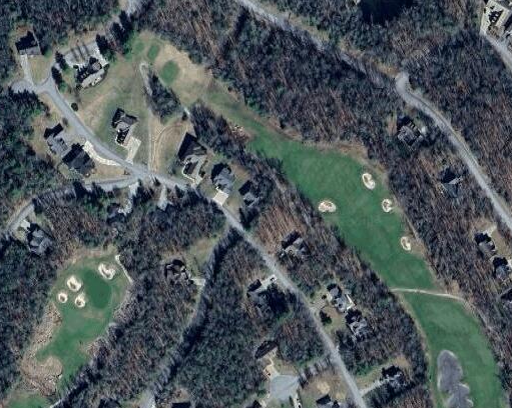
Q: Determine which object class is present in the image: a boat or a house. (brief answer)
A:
house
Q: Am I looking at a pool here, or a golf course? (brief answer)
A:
golf course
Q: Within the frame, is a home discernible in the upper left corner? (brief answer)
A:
Yes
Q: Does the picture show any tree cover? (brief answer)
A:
Yes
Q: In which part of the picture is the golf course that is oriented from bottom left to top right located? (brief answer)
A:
bottom left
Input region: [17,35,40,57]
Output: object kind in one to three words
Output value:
house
